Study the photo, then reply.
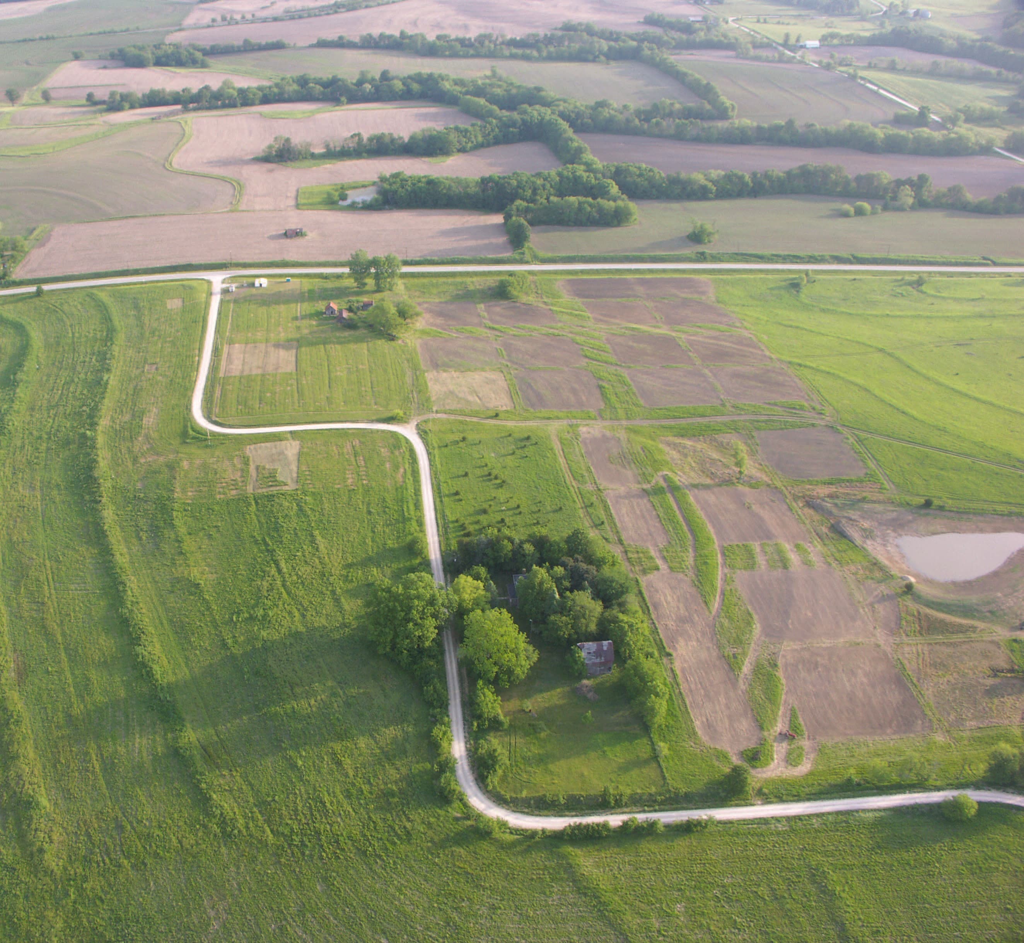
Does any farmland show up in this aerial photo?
Yes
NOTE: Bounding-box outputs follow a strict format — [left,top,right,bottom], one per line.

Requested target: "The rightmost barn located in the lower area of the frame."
[572,639,612,675]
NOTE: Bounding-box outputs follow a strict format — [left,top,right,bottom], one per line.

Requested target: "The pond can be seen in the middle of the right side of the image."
[897,535,1024,583]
